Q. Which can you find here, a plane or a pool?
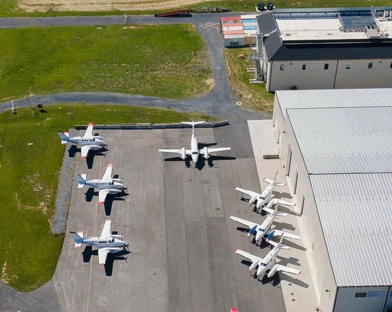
plane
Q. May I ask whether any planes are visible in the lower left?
Yes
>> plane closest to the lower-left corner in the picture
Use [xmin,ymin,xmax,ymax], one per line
[73,217,130,267]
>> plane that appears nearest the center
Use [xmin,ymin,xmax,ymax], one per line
[157,123,233,166]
